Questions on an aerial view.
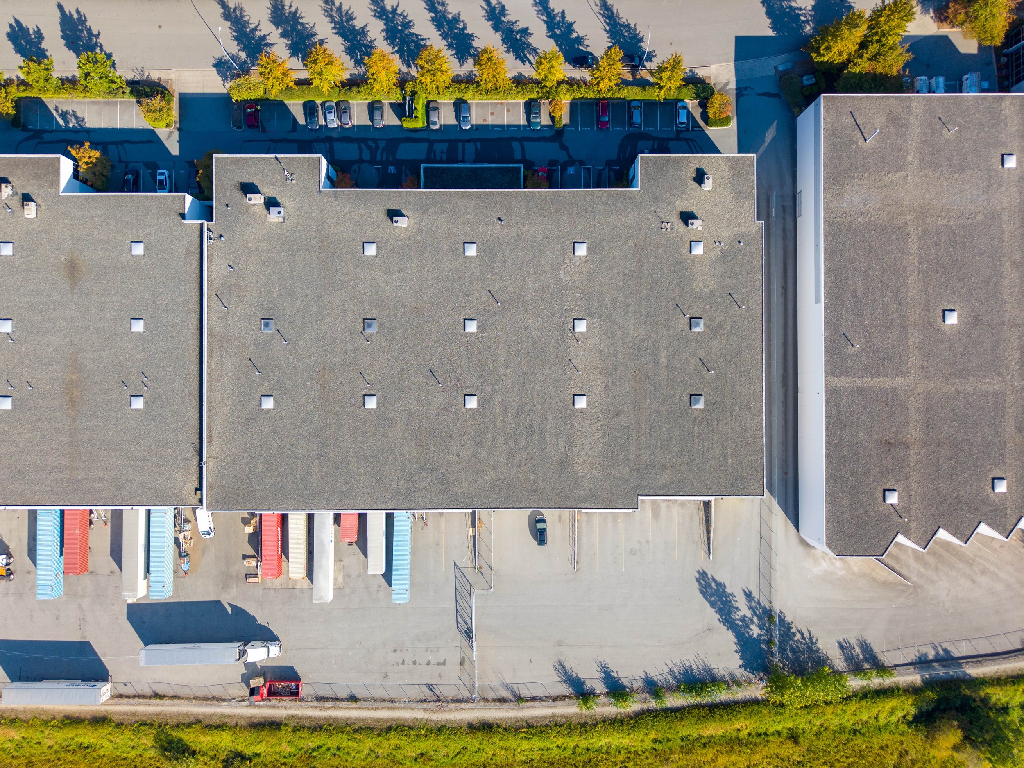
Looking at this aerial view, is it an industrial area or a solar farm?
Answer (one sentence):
The area seen from above is an industrial area.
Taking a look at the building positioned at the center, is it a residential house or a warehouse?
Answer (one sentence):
The building positioned at the center is a warehouse.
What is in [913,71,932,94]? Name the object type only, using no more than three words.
vehicle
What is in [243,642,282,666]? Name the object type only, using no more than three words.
truck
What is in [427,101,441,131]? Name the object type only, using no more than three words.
car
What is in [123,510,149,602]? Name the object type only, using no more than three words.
trailer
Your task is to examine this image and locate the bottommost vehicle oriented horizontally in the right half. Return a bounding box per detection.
[629,145,660,160]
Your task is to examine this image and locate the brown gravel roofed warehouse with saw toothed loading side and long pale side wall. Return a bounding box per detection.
[797,94,1024,558]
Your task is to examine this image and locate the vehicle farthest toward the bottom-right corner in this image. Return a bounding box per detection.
[534,513,547,546]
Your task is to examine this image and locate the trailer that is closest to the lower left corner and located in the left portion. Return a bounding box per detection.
[2,678,110,704]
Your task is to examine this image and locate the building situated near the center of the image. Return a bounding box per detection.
[180,153,766,514]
